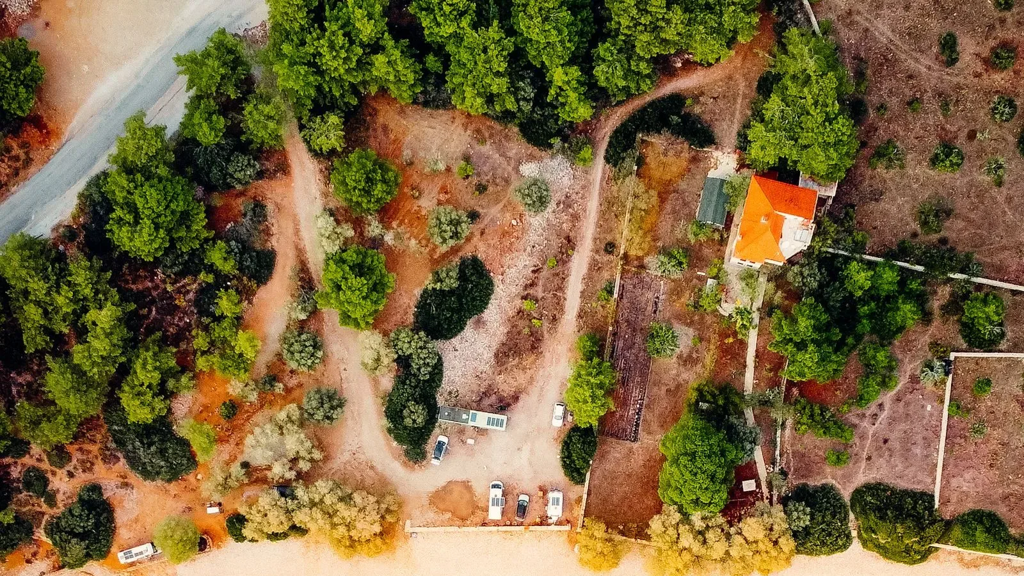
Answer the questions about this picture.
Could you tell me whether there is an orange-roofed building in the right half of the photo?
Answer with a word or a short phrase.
Yes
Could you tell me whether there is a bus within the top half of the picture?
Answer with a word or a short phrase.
No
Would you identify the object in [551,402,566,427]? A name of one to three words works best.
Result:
car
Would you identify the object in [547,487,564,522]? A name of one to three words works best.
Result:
camper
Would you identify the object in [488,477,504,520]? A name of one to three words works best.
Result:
vehicle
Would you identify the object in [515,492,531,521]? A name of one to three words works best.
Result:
car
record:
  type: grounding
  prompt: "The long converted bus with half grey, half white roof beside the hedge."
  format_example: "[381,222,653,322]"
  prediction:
[437,403,509,430]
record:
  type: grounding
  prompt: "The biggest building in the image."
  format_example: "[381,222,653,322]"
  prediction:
[725,175,819,269]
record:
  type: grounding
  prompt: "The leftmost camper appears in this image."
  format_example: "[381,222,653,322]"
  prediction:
[116,536,166,564]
